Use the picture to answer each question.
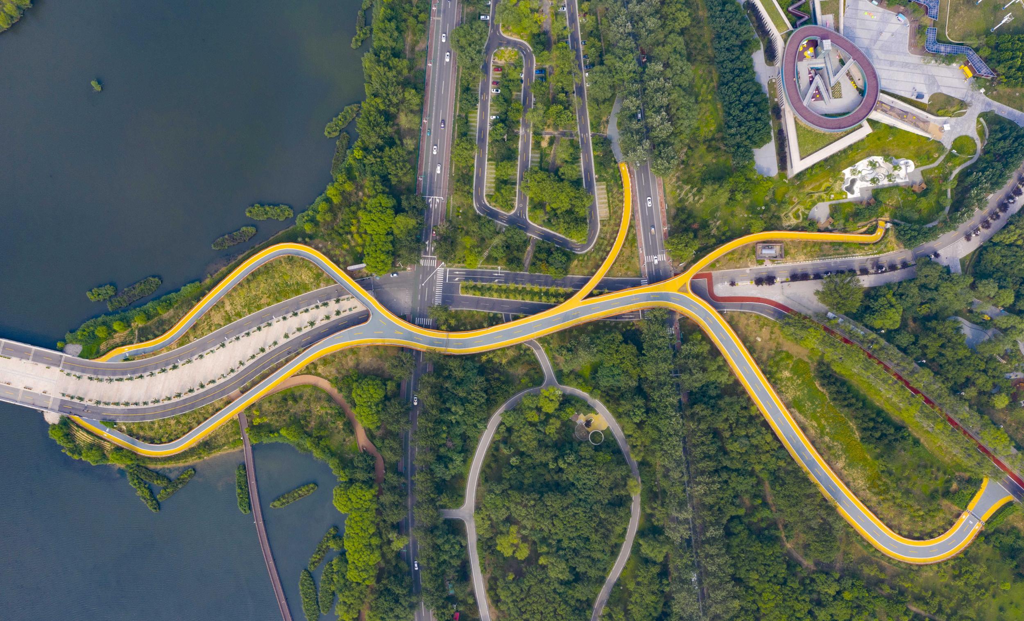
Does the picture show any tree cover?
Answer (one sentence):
Yes, there's tree cover in this view.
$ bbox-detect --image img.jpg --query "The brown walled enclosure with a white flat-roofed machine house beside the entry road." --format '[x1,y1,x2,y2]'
[754,243,784,260]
